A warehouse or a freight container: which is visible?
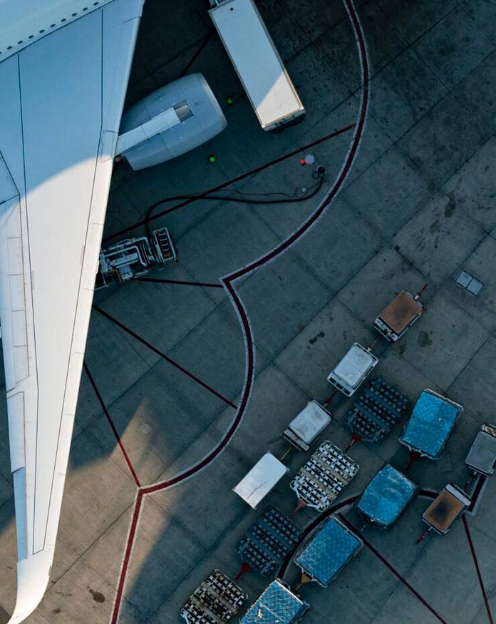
freight container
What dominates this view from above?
paved ground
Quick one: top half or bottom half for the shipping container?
bottom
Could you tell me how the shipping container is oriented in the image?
on a diagonal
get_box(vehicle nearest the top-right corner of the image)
[205,0,305,136]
